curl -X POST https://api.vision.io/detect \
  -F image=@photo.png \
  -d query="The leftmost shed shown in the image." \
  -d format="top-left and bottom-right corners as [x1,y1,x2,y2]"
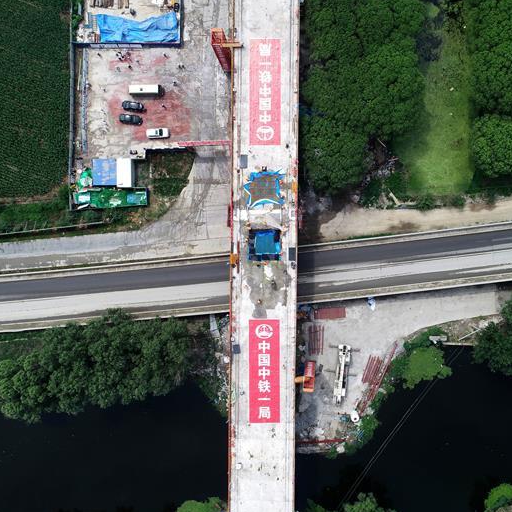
[92,159,117,188]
